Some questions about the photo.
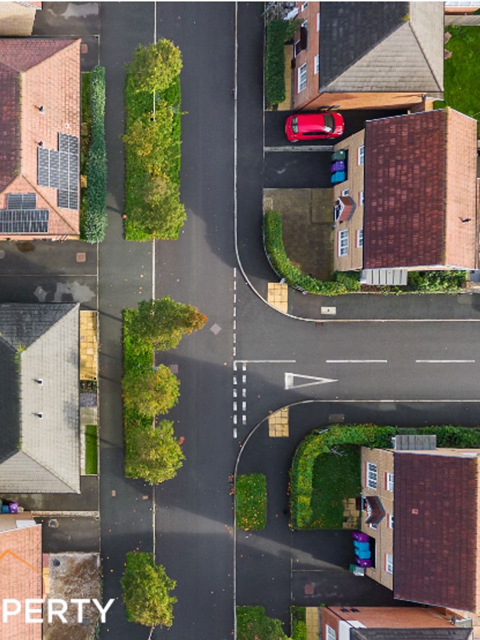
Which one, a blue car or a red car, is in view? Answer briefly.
red car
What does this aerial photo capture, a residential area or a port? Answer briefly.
residential area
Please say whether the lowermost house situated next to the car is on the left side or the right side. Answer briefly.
right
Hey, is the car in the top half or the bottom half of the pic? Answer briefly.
top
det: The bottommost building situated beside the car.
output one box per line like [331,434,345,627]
[332,108,480,272]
